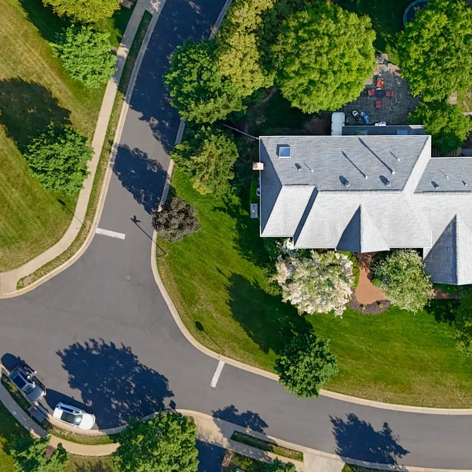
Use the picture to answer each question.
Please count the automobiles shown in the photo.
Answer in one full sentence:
Looking from above, you can make out 2 automobiles.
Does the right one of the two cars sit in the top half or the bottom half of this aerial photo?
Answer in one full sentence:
The bottom half of the photo is where the right one of the two cars is.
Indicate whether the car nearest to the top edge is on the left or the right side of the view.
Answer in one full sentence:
The car nearest to the top edge sits on the left side.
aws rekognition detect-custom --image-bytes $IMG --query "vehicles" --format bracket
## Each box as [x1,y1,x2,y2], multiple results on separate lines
[7,365,45,403]
[51,403,95,430]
